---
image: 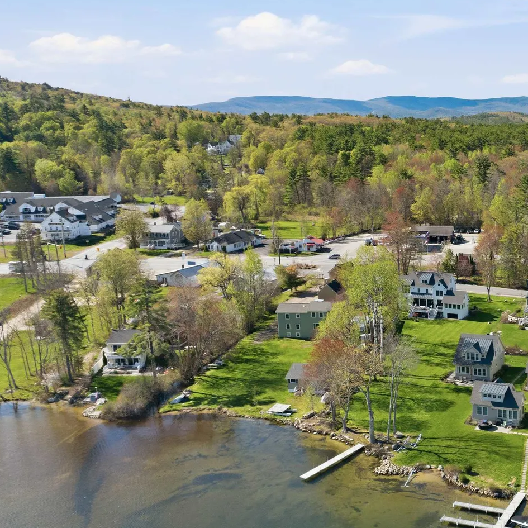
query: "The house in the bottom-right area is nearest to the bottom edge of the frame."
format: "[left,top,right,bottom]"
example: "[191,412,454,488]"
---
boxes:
[470,380,528,425]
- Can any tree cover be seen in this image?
Yes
